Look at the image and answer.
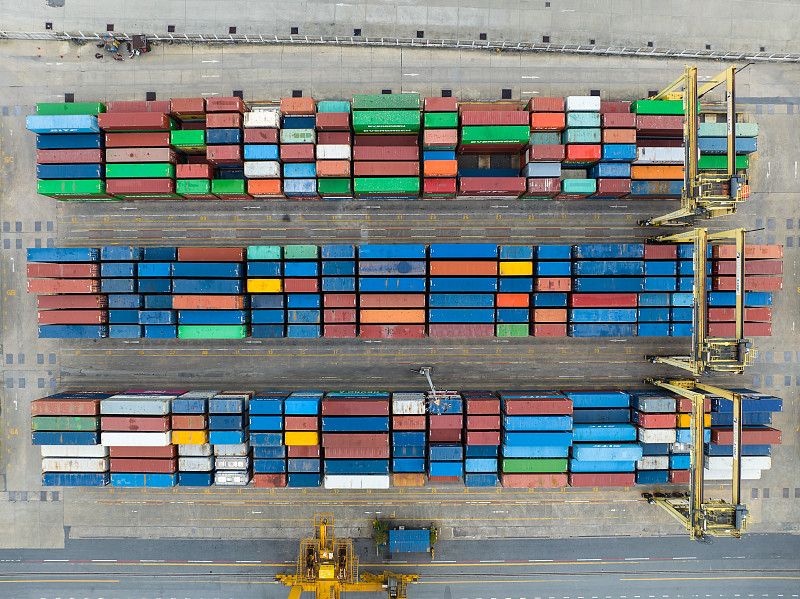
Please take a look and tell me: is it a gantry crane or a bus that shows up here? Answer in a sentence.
Visible in the photo is a gantry crane.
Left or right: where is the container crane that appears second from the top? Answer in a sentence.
The container crane that appears second from the top sits on the right side.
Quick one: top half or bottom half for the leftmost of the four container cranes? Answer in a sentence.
You can find the leftmost of the four container cranes in the bottom half.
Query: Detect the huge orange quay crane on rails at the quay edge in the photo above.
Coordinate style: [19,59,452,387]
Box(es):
[274,512,418,599]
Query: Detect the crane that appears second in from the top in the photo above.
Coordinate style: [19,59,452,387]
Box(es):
[645,225,763,376]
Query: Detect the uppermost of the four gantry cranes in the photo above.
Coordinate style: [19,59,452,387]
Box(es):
[638,57,755,227]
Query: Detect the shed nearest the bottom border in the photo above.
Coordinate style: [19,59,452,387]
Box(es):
[390,524,430,551]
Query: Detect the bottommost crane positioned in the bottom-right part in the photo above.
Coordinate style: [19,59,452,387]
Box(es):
[644,375,760,540]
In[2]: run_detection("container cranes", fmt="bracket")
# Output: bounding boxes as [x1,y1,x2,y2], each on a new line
[644,375,760,540]
[645,225,763,376]
[274,512,418,599]
[638,57,755,227]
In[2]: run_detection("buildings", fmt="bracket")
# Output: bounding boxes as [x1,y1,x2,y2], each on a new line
[390,524,430,551]
[131,35,148,52]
